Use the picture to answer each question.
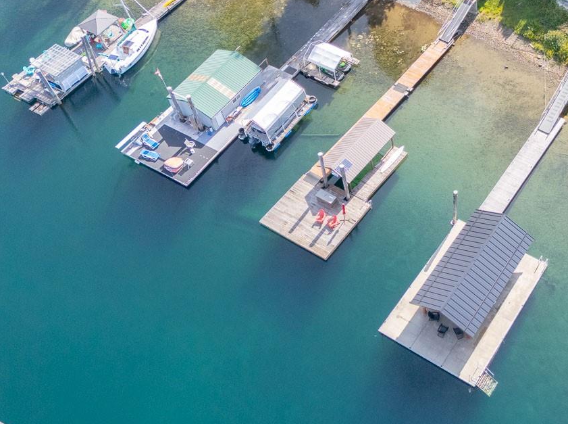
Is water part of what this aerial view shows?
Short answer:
Yes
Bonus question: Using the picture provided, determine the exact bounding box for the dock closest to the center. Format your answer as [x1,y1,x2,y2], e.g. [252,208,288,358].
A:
[259,173,372,262]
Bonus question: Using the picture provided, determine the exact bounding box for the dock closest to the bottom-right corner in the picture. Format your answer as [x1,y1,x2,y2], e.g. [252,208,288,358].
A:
[378,219,549,389]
